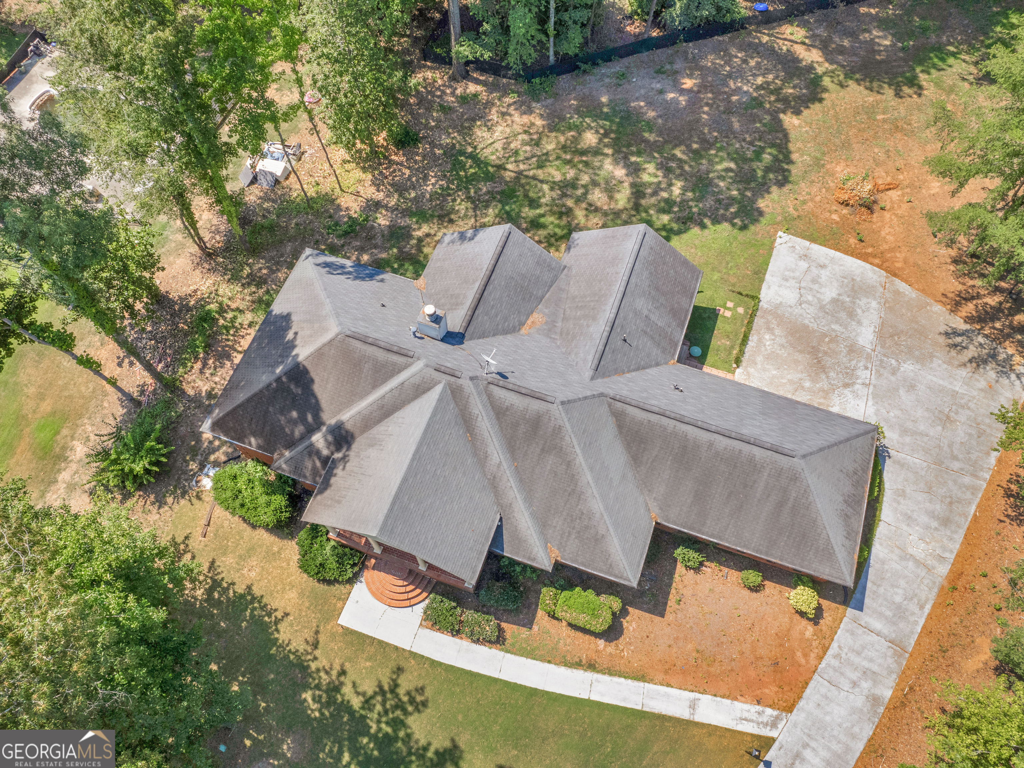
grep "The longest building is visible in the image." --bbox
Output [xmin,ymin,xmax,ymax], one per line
[199,223,880,591]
